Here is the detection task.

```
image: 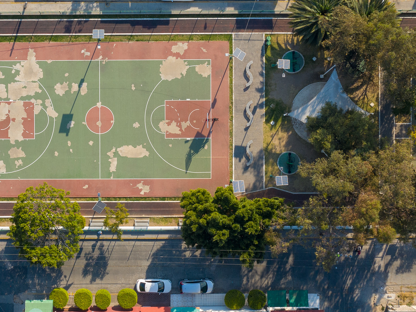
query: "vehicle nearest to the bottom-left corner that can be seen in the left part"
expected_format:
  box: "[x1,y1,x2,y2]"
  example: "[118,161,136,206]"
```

[136,277,172,295]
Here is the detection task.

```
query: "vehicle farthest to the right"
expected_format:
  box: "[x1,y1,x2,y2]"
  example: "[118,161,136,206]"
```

[179,277,214,295]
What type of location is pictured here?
sports ground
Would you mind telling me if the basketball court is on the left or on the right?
left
